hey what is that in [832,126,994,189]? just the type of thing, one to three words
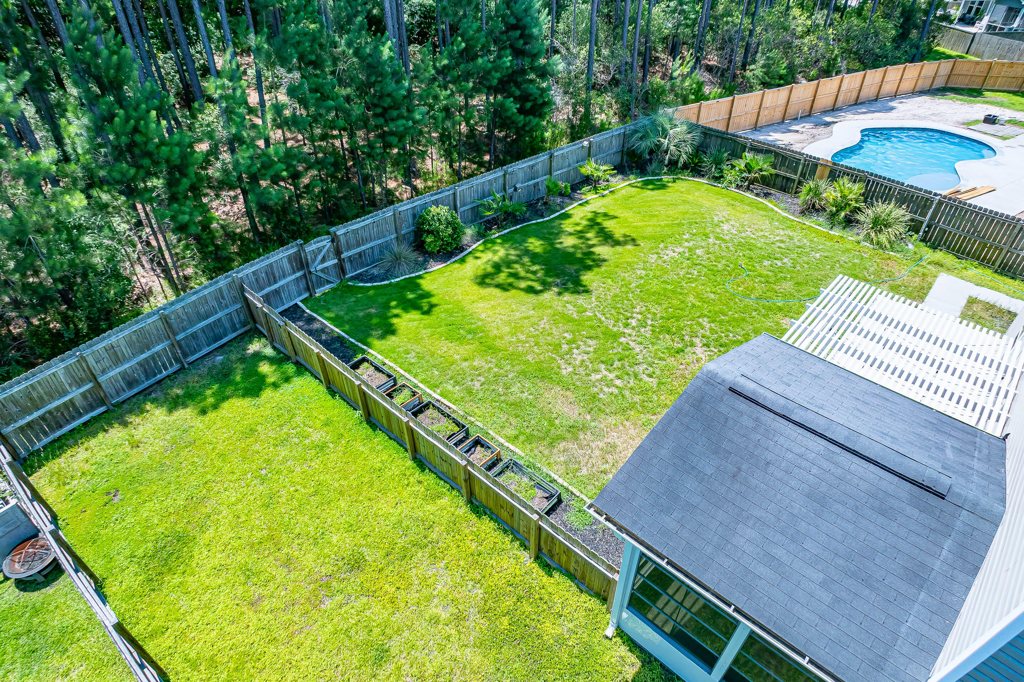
swimming pool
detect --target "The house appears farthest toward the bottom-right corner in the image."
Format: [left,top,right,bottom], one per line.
[585,330,1024,682]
